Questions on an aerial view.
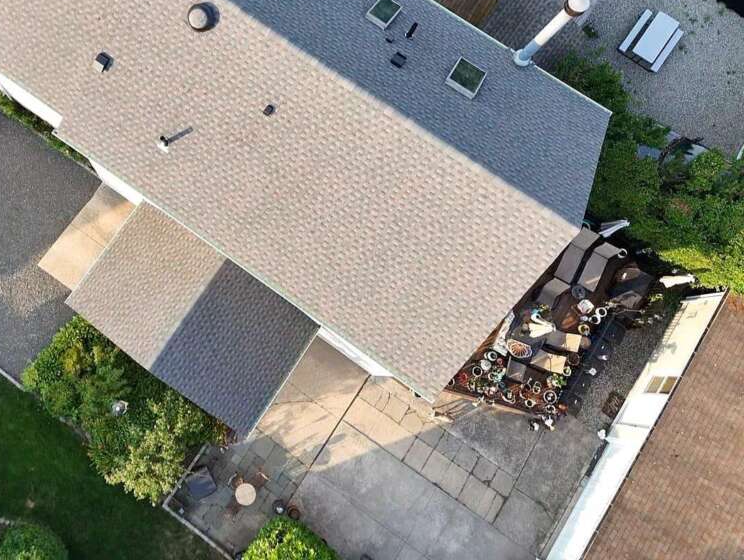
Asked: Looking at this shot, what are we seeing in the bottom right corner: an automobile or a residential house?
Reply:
residential house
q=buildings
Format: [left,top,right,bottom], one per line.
[534,287,744,560]
[0,0,612,438]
